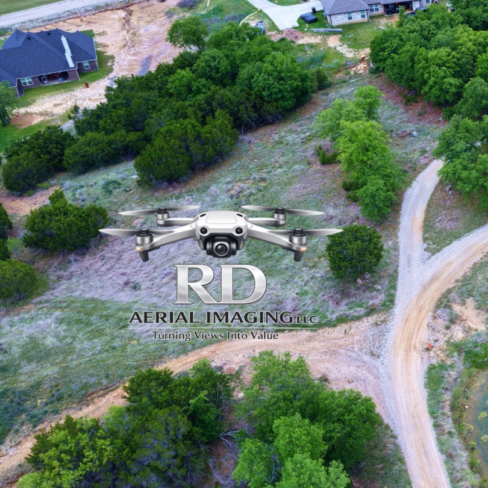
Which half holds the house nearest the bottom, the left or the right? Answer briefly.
left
